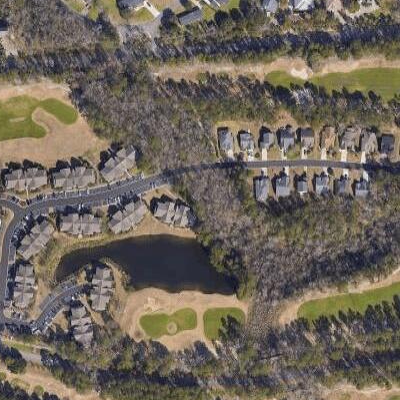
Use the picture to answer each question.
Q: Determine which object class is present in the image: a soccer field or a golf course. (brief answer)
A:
golf course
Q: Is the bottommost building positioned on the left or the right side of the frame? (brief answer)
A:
left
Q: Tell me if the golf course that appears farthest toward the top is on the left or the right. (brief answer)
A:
right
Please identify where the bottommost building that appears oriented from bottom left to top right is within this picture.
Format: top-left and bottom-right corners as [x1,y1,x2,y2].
[19,220,56,260]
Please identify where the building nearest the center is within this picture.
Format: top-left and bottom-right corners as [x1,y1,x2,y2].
[154,202,195,225]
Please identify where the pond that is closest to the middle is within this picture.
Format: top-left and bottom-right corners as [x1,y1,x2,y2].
[58,236,231,292]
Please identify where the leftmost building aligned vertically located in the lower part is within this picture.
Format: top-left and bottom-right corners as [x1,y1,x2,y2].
[15,266,34,308]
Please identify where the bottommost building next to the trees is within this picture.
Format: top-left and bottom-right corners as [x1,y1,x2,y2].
[71,306,95,345]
